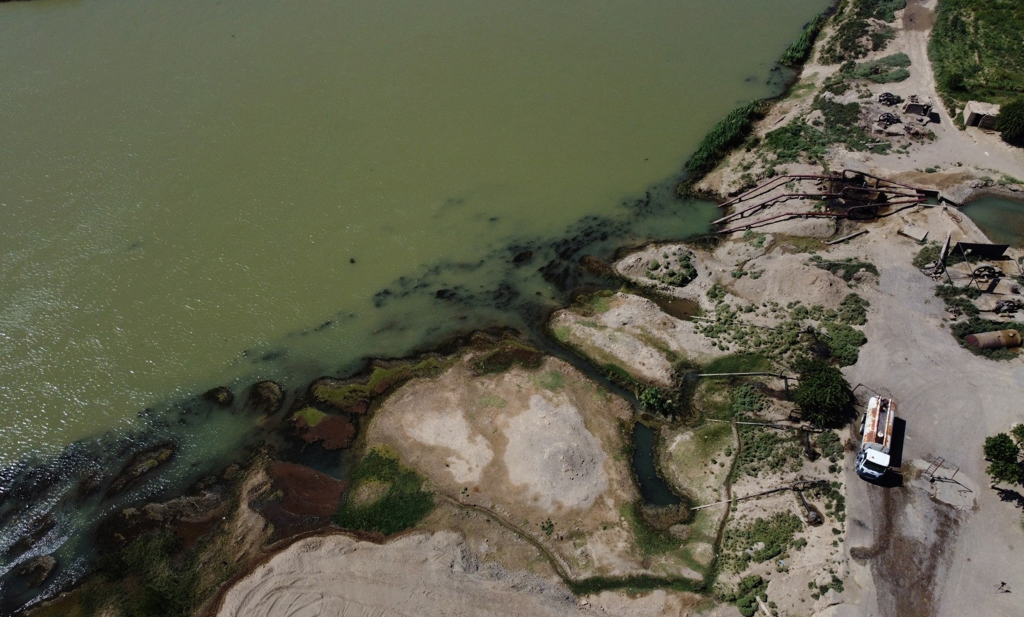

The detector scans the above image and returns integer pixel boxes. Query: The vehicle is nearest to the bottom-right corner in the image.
[855,395,896,485]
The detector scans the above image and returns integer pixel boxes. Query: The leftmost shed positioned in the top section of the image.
[902,93,936,117]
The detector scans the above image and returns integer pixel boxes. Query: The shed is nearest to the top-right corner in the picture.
[964,98,1014,131]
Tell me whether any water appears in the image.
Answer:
Yes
